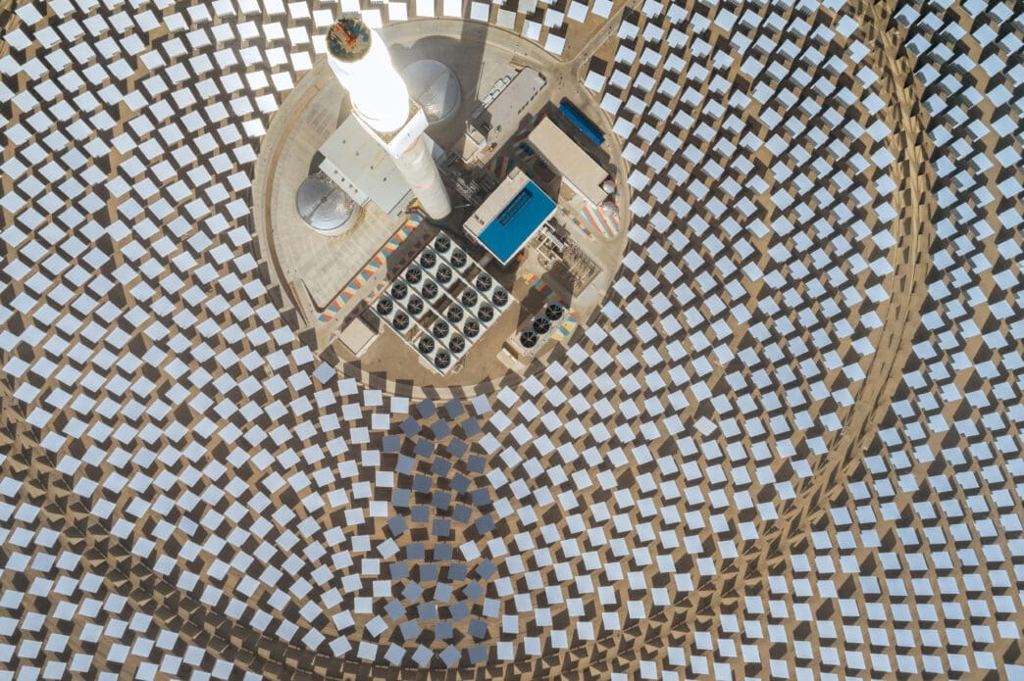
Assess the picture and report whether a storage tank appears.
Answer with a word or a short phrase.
Yes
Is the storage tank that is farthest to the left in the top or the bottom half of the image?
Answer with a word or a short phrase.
top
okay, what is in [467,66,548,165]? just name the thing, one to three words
building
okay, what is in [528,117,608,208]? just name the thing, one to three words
building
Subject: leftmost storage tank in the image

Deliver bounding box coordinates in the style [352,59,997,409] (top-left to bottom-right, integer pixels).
[295,171,363,237]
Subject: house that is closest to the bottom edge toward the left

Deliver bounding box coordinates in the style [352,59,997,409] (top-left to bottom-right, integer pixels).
[339,318,380,354]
